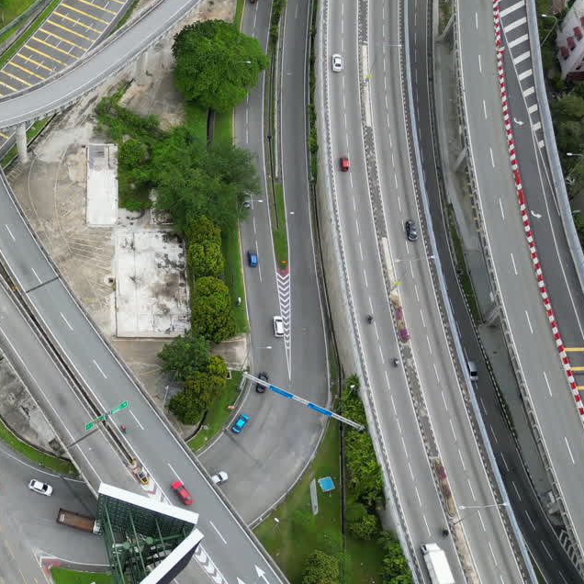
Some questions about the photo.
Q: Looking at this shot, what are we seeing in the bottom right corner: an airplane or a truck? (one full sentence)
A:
The one visible in the bottom right corner is a truck.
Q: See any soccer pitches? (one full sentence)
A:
No, there's no soccer pitch here.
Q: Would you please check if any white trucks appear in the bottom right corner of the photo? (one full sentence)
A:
Yes, looking in the bottom right corner of the photo, one can make out a white truck.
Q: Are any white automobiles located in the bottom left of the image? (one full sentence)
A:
Yes, there is a white automobile in the bottom left of the image.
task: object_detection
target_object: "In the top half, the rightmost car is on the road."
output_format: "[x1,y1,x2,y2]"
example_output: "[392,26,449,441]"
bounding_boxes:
[403,219,418,241]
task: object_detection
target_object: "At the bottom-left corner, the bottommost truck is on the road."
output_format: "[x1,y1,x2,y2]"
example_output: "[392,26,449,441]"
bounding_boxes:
[55,506,94,531]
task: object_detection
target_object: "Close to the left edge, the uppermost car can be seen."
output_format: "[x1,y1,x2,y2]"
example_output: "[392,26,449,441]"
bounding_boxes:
[28,477,55,496]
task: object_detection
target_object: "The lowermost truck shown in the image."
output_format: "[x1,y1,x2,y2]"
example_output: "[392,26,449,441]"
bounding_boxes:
[419,538,461,584]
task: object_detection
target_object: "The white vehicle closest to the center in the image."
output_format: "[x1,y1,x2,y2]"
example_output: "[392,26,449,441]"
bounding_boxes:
[272,316,285,338]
